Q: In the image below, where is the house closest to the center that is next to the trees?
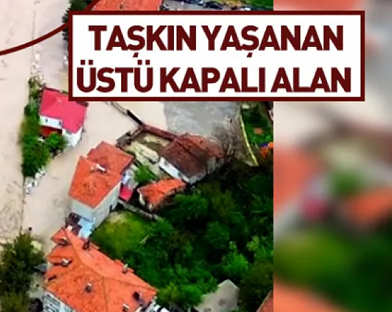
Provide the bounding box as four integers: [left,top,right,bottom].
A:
[159,136,227,180]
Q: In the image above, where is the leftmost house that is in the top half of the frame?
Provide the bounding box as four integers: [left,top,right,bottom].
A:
[41,93,98,151]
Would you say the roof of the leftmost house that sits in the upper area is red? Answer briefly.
Yes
